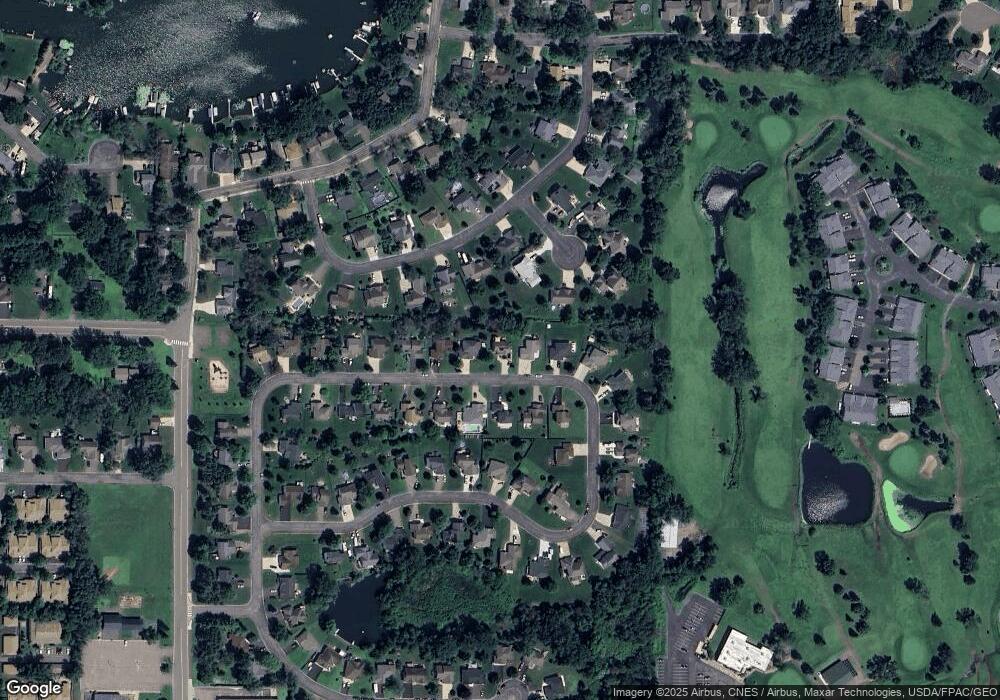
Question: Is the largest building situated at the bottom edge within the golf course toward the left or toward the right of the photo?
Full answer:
It is on the right.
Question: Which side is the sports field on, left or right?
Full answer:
You can find the sports field on the left side of the picture.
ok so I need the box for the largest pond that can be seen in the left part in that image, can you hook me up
[329,575,383,646]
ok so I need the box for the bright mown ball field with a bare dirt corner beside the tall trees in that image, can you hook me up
[80,513,173,596]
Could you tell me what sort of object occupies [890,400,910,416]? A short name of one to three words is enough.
swimming pool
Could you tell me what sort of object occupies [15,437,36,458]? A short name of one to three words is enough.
house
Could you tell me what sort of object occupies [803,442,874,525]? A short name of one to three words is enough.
pond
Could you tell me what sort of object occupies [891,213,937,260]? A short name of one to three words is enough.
building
